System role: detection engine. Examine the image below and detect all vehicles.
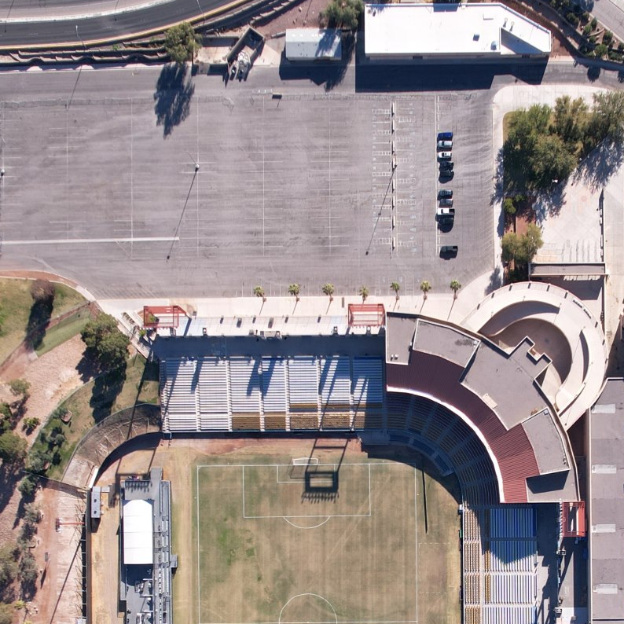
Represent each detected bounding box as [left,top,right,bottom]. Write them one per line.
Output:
[439,190,454,197]
[440,162,454,169]
[437,140,452,149]
[440,216,454,223]
[439,199,454,206]
[437,208,455,215]
[440,169,455,177]
[437,152,452,159]
[437,132,452,139]
[441,248,458,254]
